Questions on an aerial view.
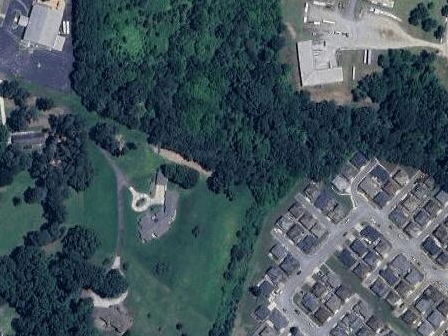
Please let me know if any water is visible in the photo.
No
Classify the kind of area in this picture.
residential area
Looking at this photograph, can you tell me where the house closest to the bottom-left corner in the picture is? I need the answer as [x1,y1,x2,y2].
[92,301,135,335]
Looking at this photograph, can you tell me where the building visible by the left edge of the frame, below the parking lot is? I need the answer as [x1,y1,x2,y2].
[4,133,48,149]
